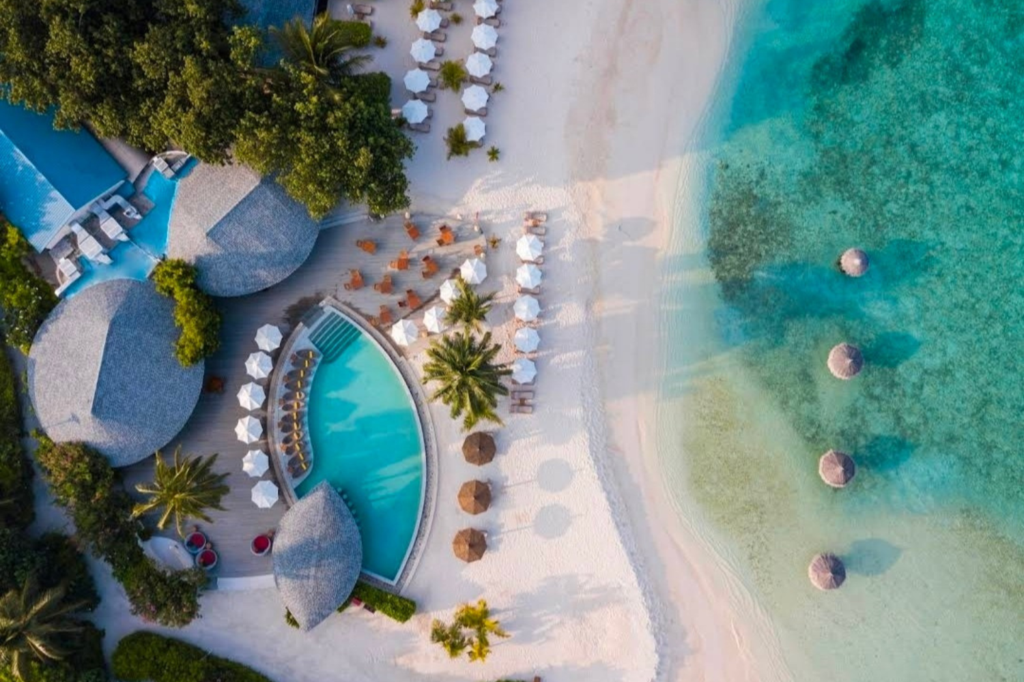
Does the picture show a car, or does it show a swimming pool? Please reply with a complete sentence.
The image shows a swimming pool.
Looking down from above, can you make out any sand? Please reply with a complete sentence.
Yes, there is sand in the image.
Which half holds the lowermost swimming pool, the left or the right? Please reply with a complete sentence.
The lowermost swimming pool appears in the left half of the scene.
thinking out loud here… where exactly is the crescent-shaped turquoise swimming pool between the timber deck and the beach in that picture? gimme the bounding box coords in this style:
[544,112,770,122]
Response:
[267,297,439,589]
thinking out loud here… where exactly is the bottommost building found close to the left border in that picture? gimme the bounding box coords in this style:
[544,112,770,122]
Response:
[27,279,205,468]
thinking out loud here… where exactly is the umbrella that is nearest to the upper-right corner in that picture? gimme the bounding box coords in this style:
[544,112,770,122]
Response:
[837,247,867,277]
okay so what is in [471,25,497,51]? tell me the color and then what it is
white umbrella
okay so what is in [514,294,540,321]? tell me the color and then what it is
white umbrella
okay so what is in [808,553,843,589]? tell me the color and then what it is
gray umbrella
